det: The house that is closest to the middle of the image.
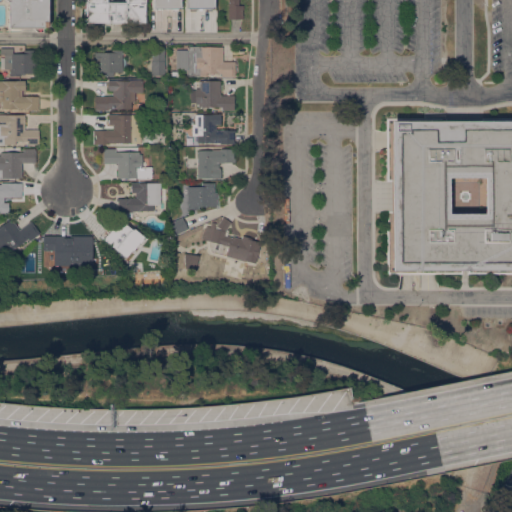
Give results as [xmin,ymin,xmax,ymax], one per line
[204,220,262,263]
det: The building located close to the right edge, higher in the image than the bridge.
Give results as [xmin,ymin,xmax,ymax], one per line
[394,120,512,272]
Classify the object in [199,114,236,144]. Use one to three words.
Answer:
house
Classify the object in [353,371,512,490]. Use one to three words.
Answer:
bridge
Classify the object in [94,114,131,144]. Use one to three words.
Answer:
house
